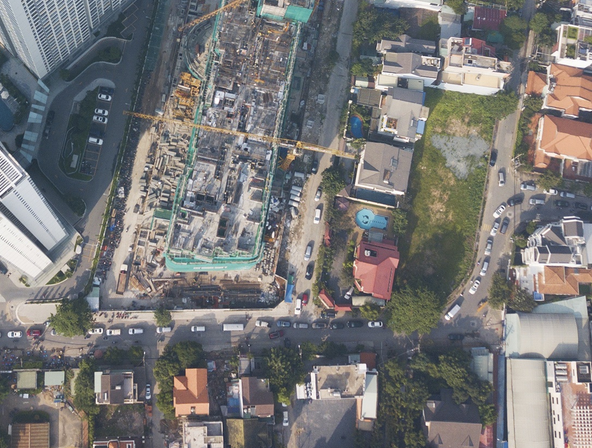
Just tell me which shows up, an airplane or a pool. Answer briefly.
pool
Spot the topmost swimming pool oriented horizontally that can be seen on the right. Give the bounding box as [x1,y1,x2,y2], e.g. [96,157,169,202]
[352,190,399,209]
